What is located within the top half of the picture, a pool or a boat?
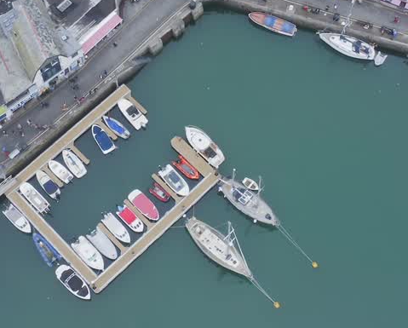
boat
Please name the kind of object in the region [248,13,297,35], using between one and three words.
boat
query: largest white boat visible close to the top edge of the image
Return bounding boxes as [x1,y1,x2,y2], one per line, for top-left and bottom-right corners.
[319,4,377,60]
